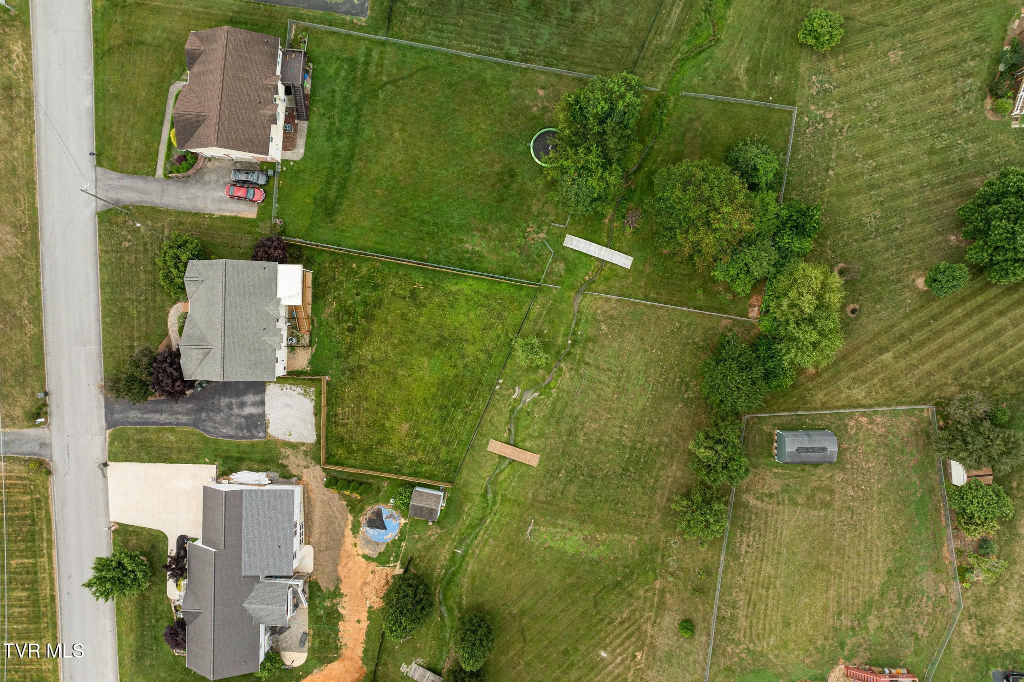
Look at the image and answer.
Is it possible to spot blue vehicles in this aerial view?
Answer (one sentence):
No, there's no blue vehicle here.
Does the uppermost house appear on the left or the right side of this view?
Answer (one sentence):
The uppermost house is on the left side of the image.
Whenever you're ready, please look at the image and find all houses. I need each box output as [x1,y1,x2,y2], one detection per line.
[175,258,288,382]
[178,484,305,681]
[172,25,288,164]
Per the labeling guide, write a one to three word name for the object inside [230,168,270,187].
car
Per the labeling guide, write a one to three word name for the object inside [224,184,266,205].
car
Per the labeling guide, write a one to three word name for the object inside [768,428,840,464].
shed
